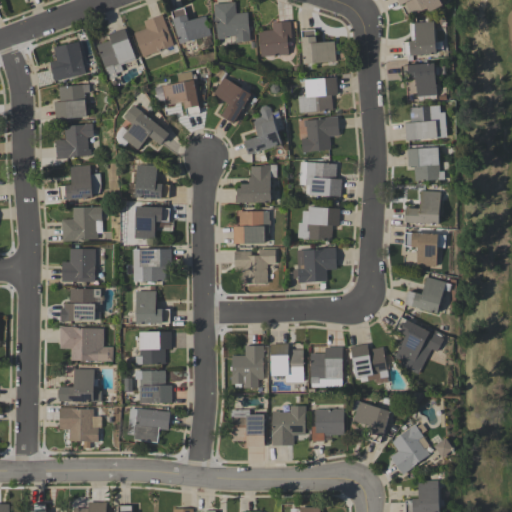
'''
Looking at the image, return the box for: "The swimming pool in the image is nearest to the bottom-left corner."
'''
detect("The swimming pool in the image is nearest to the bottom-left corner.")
[102,368,114,390]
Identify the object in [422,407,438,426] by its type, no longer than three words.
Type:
swimming pool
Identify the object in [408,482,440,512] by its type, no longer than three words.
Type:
house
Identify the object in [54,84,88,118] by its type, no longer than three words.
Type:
house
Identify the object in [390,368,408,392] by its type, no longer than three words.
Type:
swimming pool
